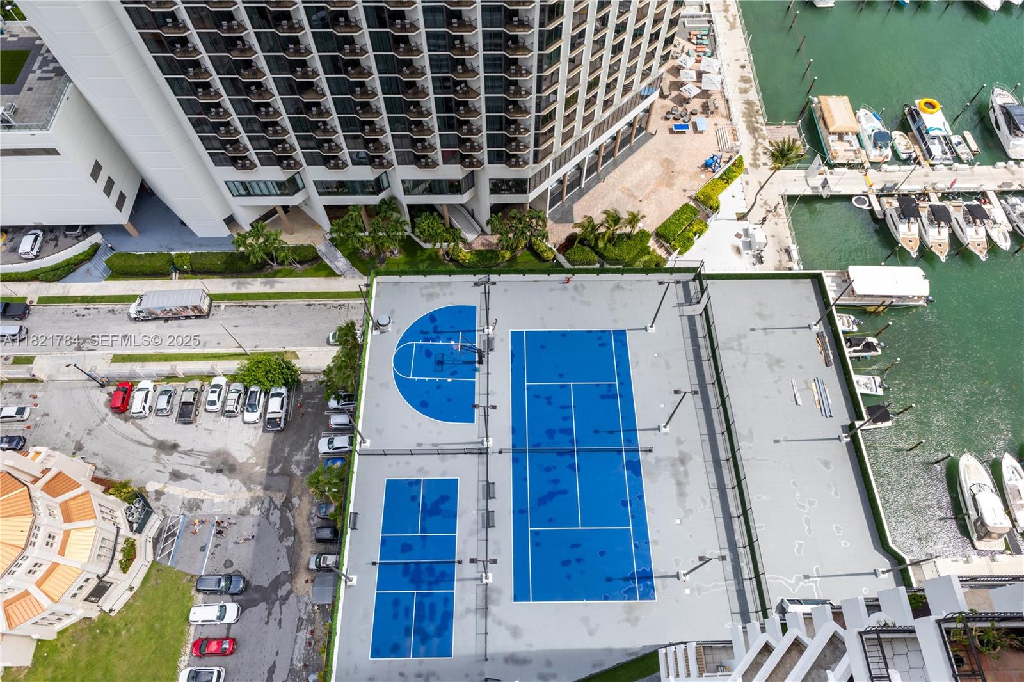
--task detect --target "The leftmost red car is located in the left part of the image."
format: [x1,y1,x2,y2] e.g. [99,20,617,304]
[113,383,138,414]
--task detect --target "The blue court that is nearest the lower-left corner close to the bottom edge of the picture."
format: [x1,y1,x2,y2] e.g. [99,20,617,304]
[370,478,459,660]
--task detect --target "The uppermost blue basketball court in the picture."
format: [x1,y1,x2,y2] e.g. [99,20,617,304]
[392,304,477,424]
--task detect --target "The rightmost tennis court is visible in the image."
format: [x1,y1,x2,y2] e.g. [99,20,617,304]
[510,329,657,605]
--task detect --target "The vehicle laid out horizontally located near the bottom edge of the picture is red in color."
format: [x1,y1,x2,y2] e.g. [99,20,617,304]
[192,636,240,659]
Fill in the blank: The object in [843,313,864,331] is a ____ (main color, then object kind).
white boat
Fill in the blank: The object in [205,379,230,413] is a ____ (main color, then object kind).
white car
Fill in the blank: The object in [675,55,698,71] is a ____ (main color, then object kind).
white umbrella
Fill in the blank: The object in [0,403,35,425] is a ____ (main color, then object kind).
white car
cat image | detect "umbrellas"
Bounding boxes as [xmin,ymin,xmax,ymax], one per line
[679,71,697,86]
[679,84,702,107]
[697,58,724,75]
[700,76,722,99]
[675,55,698,71]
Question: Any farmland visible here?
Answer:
No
